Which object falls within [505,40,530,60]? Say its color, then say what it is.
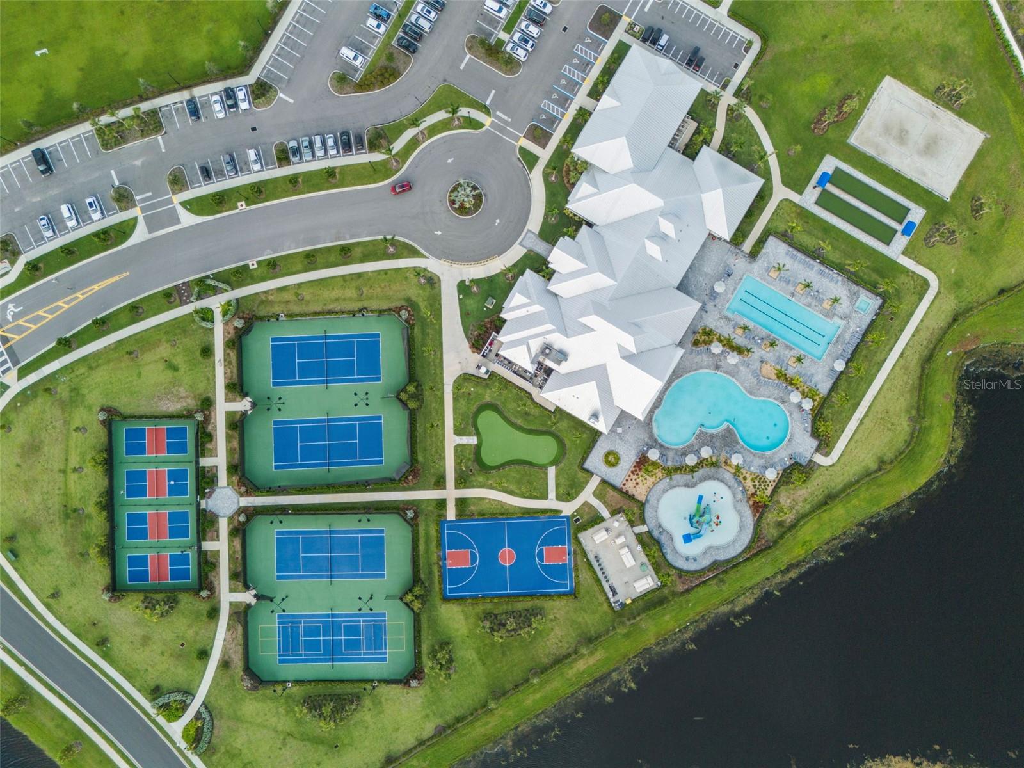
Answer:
white car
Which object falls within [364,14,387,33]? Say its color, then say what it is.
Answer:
white car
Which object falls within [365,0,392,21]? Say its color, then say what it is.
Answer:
blue truck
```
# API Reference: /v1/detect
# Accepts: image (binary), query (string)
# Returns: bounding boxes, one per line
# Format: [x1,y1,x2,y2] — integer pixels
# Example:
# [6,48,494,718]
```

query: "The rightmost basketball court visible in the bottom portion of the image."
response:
[441,515,574,599]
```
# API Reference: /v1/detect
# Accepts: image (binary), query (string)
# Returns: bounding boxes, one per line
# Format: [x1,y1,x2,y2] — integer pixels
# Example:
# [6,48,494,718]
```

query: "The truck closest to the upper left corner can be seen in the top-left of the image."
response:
[29,147,51,176]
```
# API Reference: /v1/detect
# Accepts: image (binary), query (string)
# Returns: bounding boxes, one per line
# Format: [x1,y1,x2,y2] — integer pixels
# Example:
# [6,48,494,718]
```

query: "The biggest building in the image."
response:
[497,44,764,435]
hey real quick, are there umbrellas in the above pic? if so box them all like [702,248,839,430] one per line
[789,391,801,403]
[713,280,725,292]
[648,448,659,460]
[700,446,712,457]
[685,454,696,465]
[727,353,738,364]
[710,342,722,353]
[731,453,742,464]
[801,398,812,410]
[765,468,776,479]
[832,359,844,370]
